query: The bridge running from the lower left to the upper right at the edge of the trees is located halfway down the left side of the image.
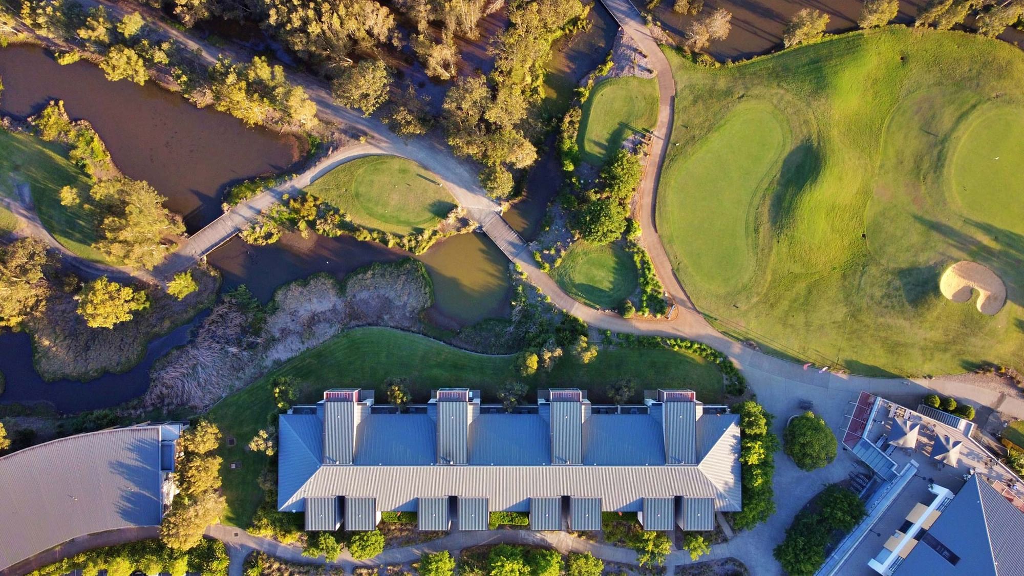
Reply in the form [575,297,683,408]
[183,209,245,260]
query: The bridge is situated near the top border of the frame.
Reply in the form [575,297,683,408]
[599,0,645,28]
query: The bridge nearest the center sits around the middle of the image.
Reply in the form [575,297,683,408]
[479,208,530,264]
